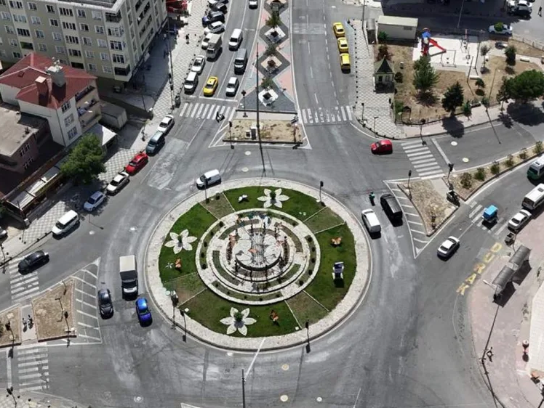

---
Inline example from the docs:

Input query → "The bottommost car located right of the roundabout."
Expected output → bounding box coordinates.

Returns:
[435,236,460,261]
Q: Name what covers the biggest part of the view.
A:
paved ground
